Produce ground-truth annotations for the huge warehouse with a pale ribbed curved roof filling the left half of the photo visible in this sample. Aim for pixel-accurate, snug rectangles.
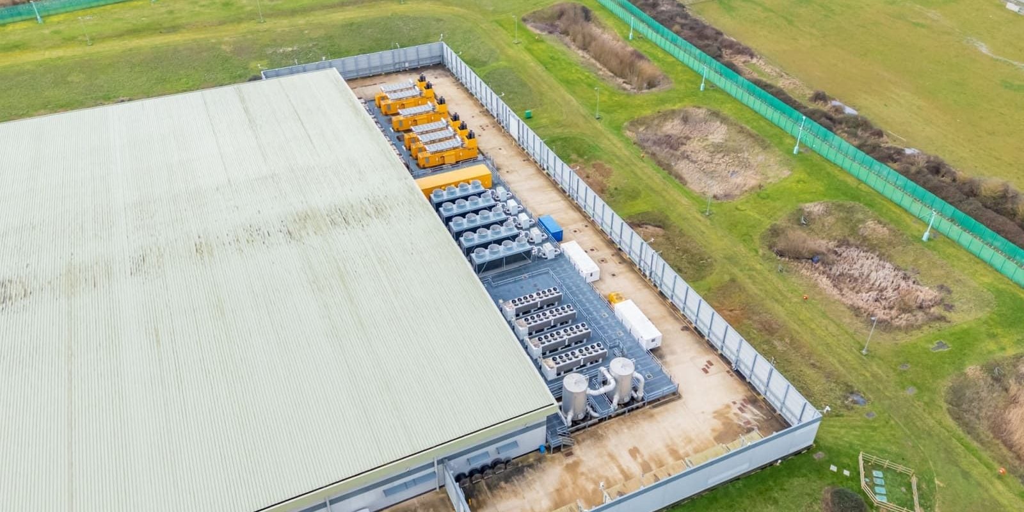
[0,66,562,512]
